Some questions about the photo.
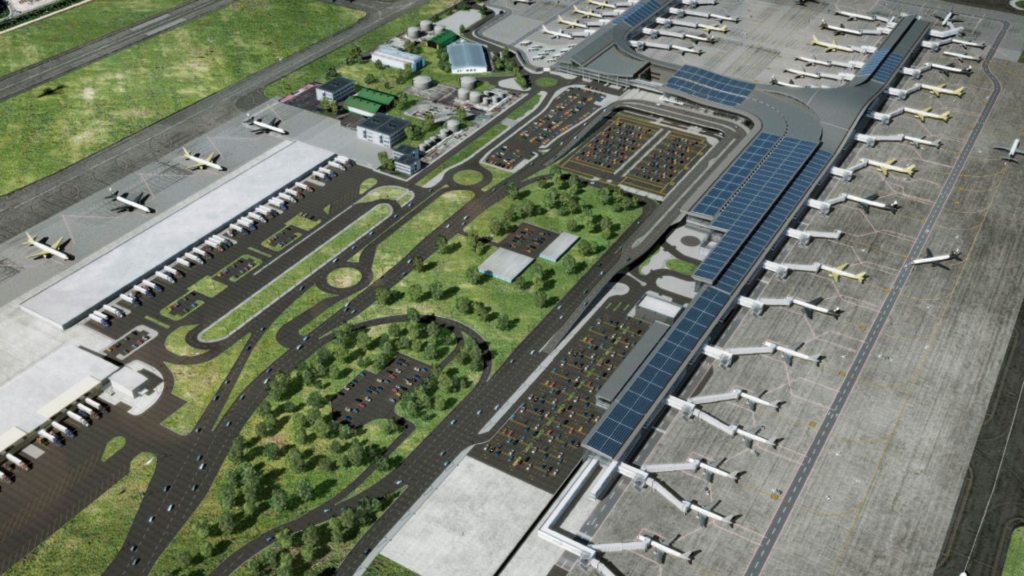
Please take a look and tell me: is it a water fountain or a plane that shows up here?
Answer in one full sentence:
Looking from above, you can make out a plane.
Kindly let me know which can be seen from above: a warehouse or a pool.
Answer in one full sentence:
The image shows a warehouse.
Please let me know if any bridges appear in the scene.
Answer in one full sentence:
Yes, the photo shows a bridge.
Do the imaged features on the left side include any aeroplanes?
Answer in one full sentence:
Yes, an aeroplane appears on the left side.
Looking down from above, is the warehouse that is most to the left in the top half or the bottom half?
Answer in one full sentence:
The bottom half of the photo is where the warehouse that is most to the left is.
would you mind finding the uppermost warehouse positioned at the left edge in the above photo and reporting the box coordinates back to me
[20,140,337,332]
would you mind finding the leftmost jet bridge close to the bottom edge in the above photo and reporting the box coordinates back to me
[581,536,651,576]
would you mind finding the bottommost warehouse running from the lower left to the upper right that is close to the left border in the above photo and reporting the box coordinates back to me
[0,345,121,468]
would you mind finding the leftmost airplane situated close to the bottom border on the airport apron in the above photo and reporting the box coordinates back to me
[637,531,694,567]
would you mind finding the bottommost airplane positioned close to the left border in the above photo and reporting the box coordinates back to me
[20,229,69,261]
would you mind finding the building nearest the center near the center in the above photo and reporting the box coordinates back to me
[479,246,535,283]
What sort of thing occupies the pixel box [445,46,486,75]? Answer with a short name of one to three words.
building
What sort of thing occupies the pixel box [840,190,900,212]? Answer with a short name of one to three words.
airplane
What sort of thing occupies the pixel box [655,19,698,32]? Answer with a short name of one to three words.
jet bridge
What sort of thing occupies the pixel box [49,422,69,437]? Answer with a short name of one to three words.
vehicle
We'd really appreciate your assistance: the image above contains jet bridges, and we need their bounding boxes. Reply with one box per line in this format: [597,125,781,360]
[581,536,651,576]
[855,134,906,151]
[617,459,701,513]
[922,37,954,56]
[615,0,640,10]
[927,22,965,43]
[629,41,671,54]
[787,229,843,250]
[681,0,719,11]
[738,296,796,320]
[586,21,612,30]
[572,32,598,41]
[601,10,627,20]
[850,46,874,54]
[703,345,777,372]
[764,260,822,282]
[655,19,698,32]
[669,8,711,21]
[807,193,849,220]
[866,106,907,128]
[642,29,685,42]
[885,83,923,105]
[668,390,743,436]
[873,16,895,29]
[901,62,933,83]
[830,159,871,186]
